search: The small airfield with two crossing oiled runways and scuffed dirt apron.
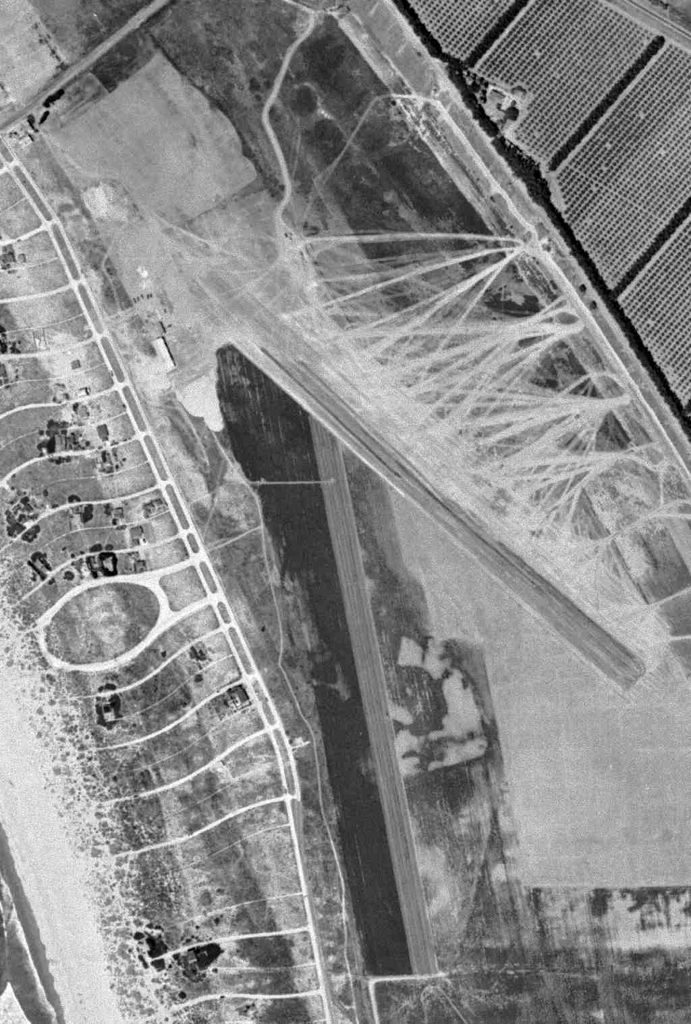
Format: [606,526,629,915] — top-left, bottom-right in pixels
[60,165,667,974]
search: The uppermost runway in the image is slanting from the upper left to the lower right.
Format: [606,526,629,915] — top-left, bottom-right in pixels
[238,343,645,688]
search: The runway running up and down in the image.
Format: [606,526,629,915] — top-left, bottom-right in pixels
[304,405,439,974]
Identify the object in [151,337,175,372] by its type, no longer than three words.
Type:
hangar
